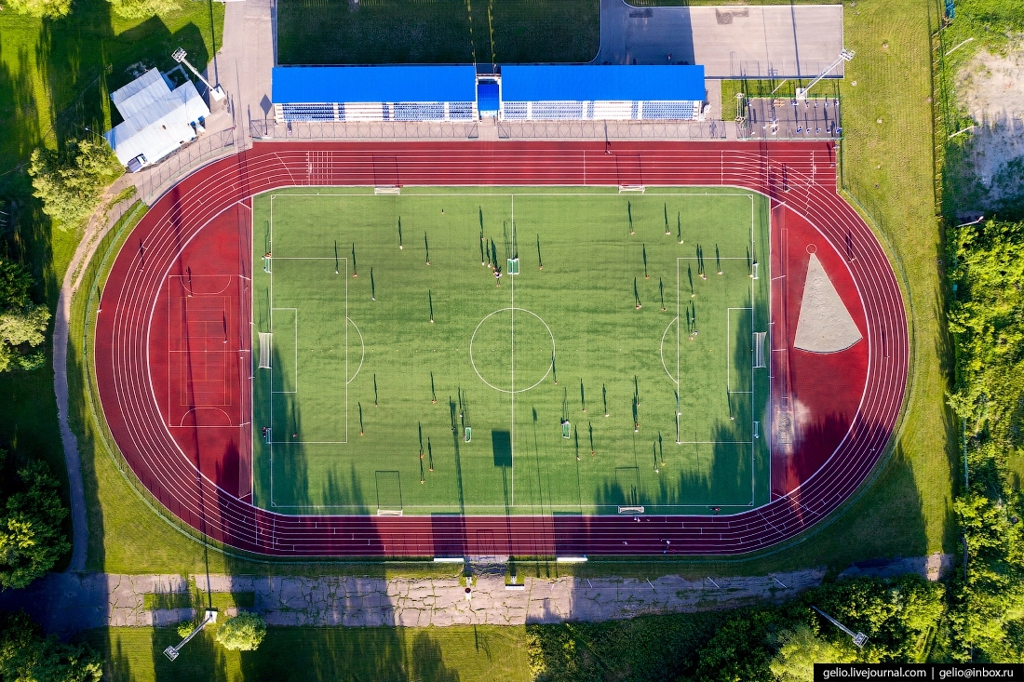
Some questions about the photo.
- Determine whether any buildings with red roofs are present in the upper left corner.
No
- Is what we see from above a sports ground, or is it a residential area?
sports ground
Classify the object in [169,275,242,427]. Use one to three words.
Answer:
basketball court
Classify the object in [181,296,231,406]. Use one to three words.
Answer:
tennis court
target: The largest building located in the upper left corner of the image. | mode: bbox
[105,65,212,166]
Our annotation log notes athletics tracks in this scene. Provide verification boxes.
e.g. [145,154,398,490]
[94,142,909,556]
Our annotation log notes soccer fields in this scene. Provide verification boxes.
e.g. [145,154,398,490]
[252,185,771,515]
